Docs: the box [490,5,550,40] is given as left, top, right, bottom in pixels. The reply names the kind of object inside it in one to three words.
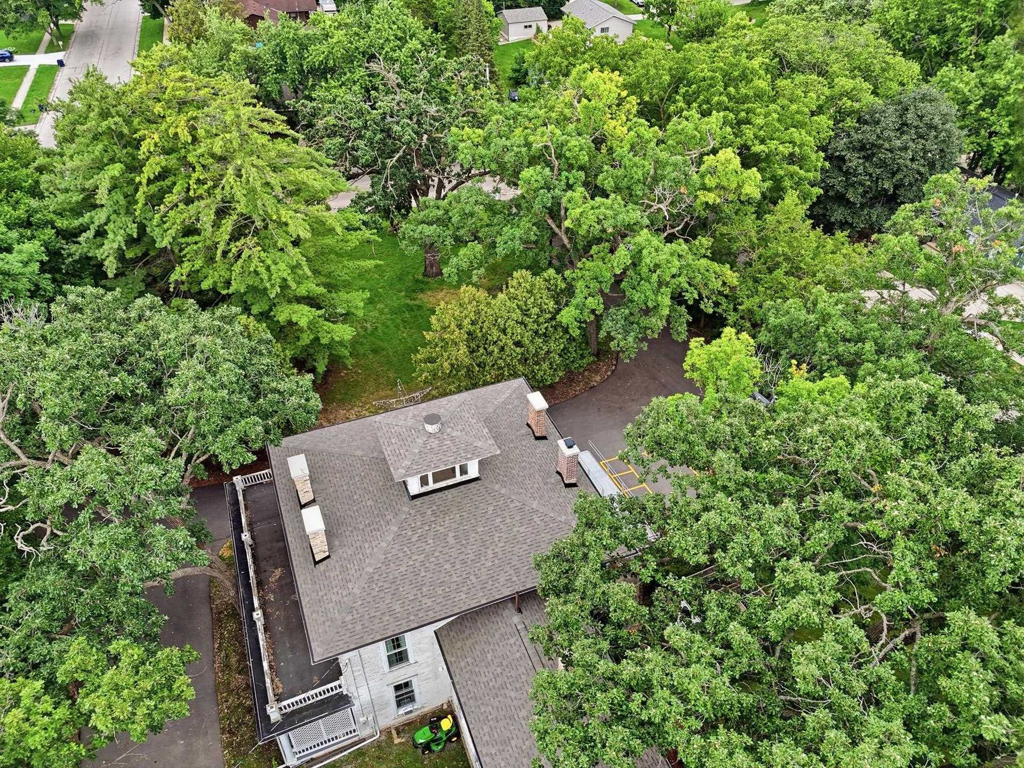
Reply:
shed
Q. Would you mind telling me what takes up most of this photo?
trees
